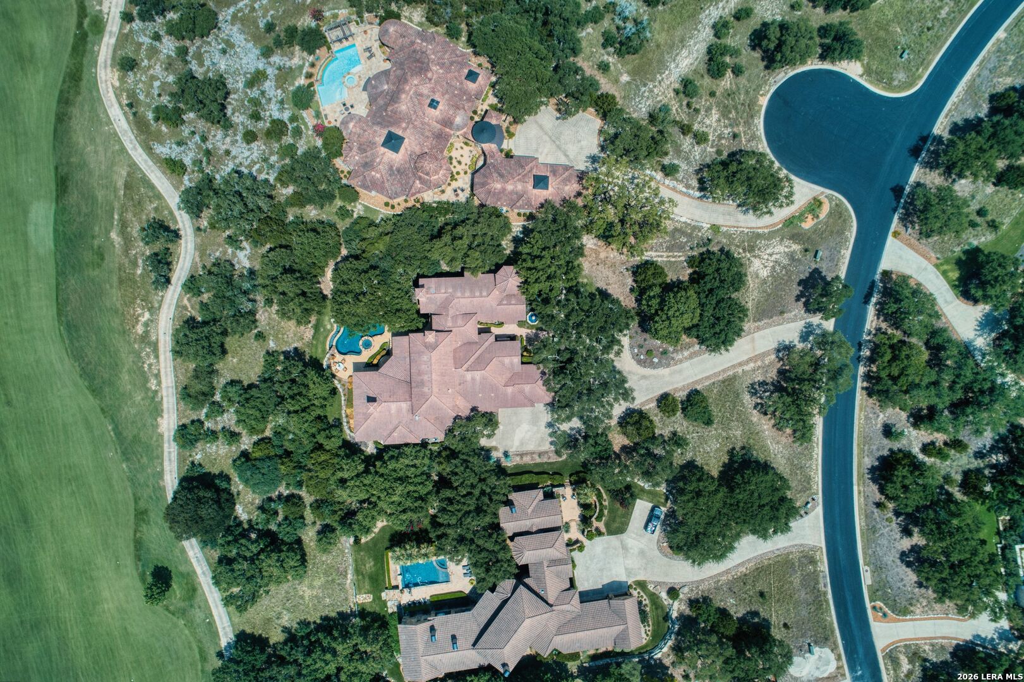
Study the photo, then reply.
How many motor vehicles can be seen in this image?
one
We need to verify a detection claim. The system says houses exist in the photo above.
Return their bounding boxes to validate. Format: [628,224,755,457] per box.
[397,561,643,682]
[499,488,563,537]
[353,312,554,445]
[338,16,492,202]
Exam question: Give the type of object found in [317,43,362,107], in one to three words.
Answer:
swimming pool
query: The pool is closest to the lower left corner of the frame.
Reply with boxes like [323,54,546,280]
[399,557,451,590]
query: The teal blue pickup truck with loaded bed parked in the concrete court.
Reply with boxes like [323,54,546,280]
[643,506,665,535]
